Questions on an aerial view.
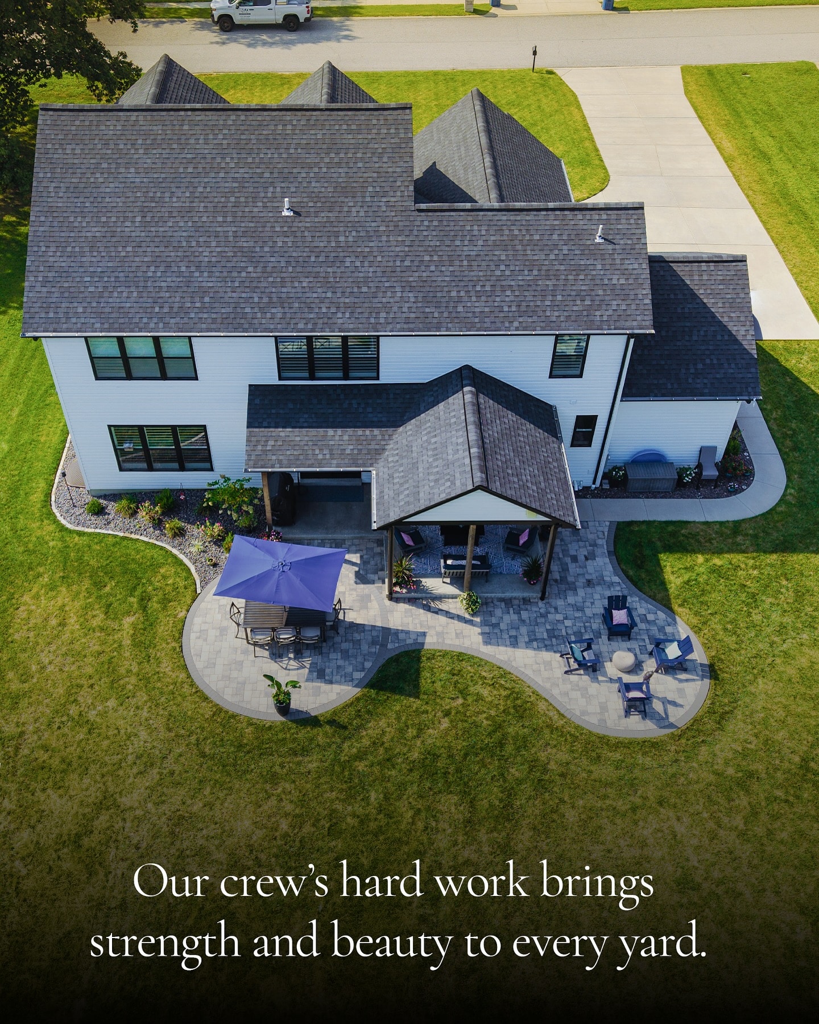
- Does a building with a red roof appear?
No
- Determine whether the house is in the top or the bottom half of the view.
top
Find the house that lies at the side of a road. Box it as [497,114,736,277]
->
[19,51,763,602]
